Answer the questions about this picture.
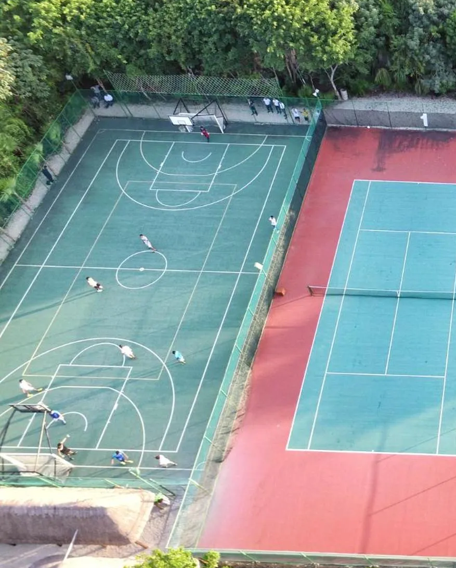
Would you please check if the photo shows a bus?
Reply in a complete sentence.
No, I find no bus anywhere in the image.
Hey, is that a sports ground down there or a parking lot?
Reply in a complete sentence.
This looks like a sports ground.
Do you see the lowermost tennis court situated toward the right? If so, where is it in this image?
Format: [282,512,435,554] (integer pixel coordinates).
[197,127,456,568]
